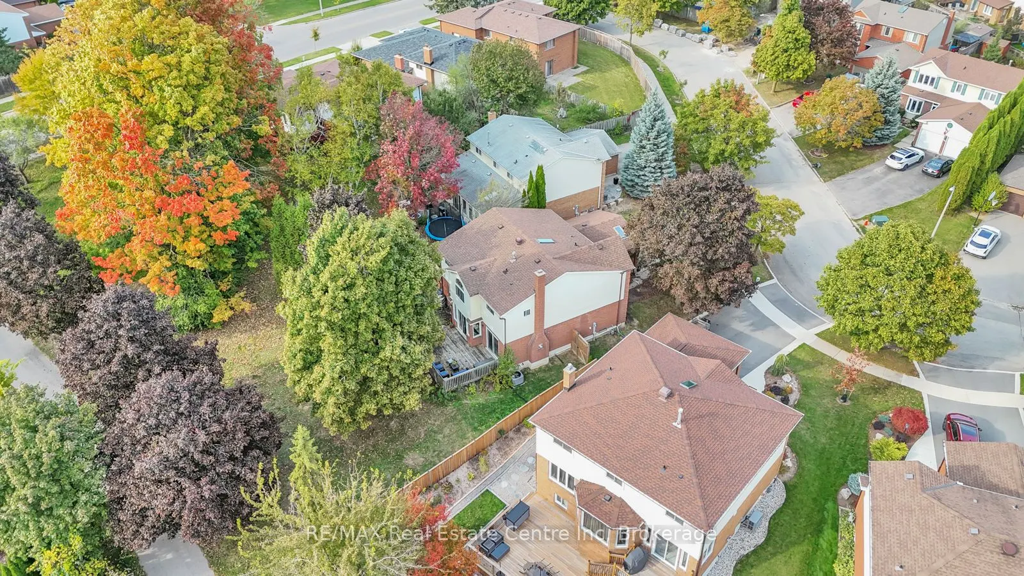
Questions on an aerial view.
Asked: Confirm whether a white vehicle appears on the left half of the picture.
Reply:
No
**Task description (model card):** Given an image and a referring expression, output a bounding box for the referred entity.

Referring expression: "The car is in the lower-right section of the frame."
[946,412,988,440]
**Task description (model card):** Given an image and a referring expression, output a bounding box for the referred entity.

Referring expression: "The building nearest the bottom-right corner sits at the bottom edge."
[854,436,1024,576]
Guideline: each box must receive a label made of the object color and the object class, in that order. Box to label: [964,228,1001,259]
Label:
white car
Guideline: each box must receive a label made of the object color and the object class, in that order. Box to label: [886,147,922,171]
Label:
white car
